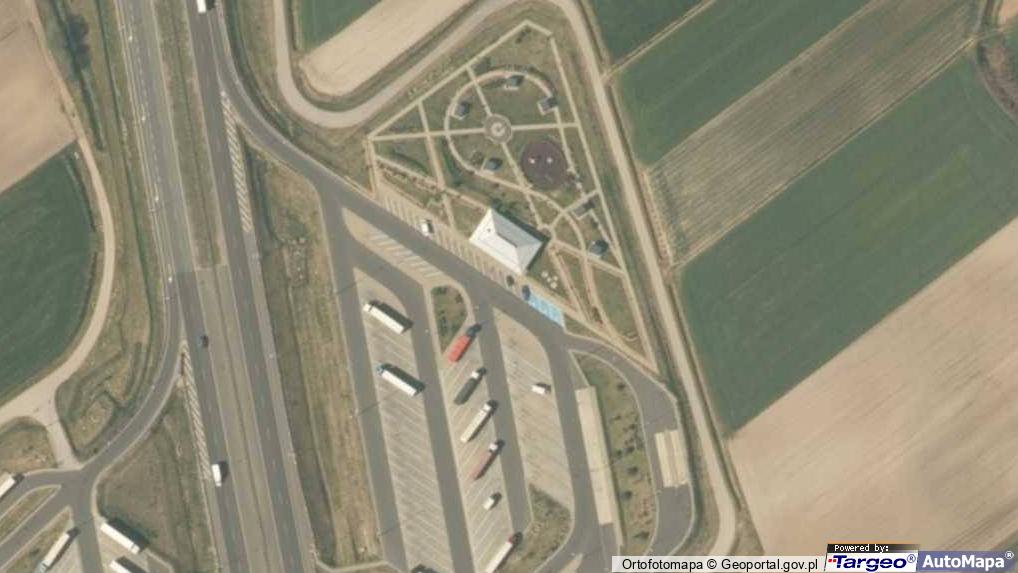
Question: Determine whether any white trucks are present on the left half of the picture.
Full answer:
Yes, a white truck appears on the left half of the picture.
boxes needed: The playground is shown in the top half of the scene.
[522,144,567,189]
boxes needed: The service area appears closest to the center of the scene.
[227,39,696,573]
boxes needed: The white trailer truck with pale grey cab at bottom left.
[34,534,70,573]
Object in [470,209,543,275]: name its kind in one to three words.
building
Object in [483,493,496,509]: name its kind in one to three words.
vehicle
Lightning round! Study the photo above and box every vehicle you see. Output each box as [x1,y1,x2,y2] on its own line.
[212,464,223,486]
[376,366,416,396]
[196,0,206,12]
[484,535,517,573]
[98,523,139,554]
[0,478,14,496]
[422,221,429,235]
[449,323,480,363]
[363,302,404,334]
[201,334,208,348]
[483,493,496,509]
[507,275,514,287]
[34,534,70,573]
[453,369,482,407]
[470,443,499,481]
[107,560,130,573]
[532,385,548,395]
[460,403,493,444]
[523,286,531,300]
